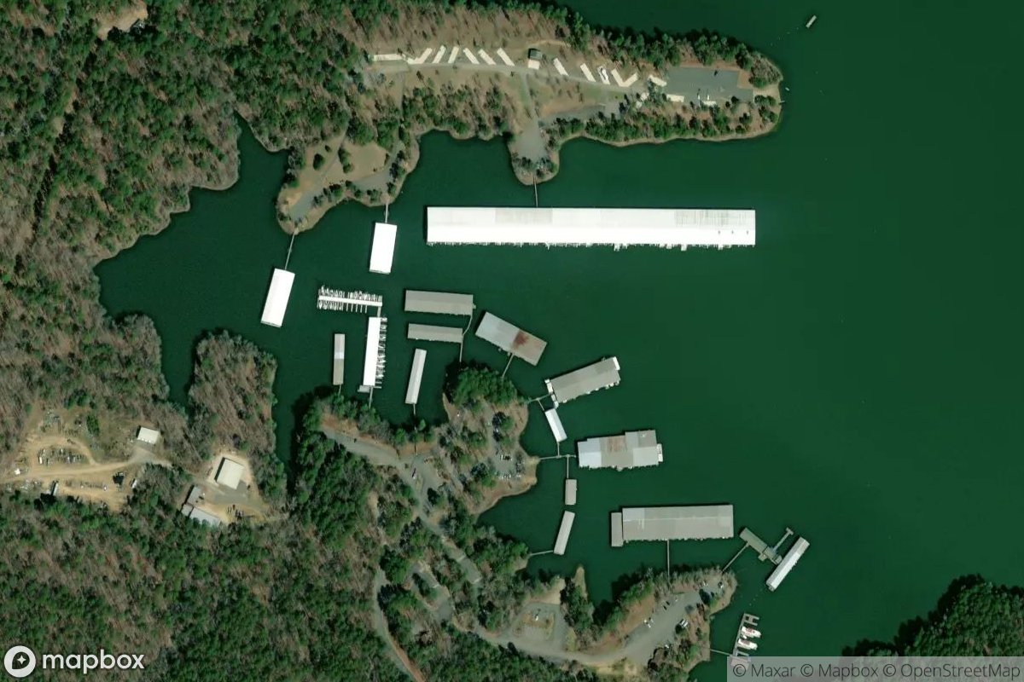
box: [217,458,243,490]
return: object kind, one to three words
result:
barn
